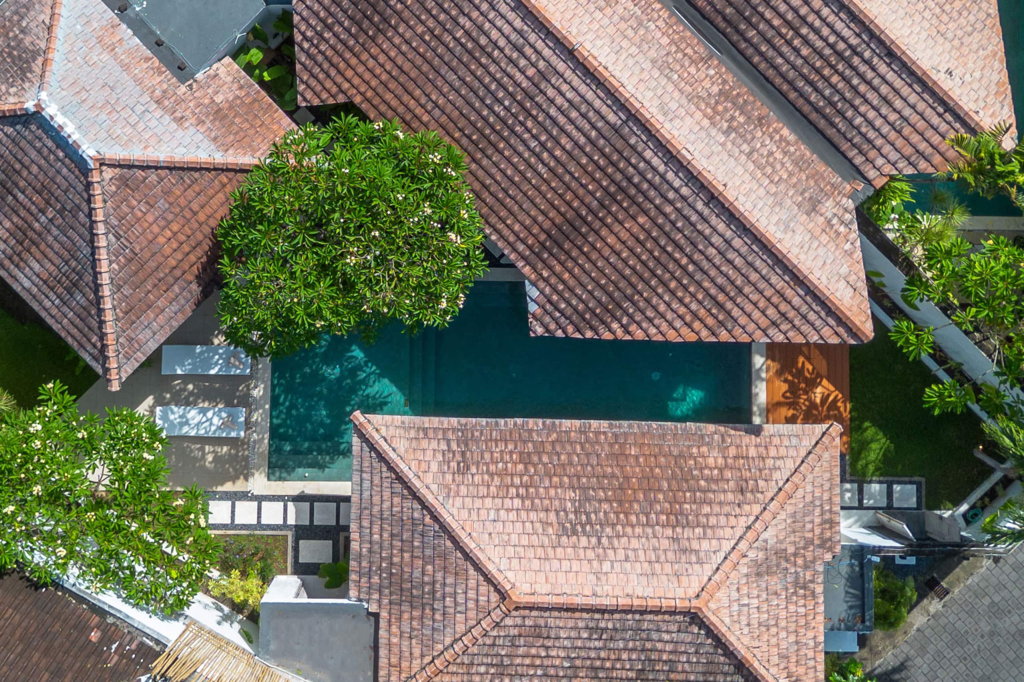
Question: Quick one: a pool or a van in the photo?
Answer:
pool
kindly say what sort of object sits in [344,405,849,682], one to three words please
house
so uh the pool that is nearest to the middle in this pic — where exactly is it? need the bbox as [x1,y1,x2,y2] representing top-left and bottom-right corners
[271,281,752,481]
